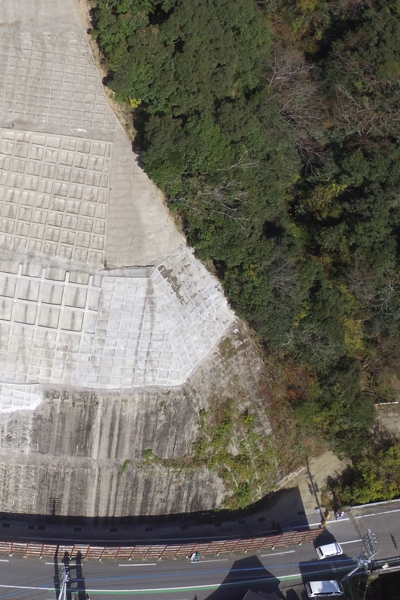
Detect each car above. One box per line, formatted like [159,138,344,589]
[304,579,343,599]
[314,543,341,561]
